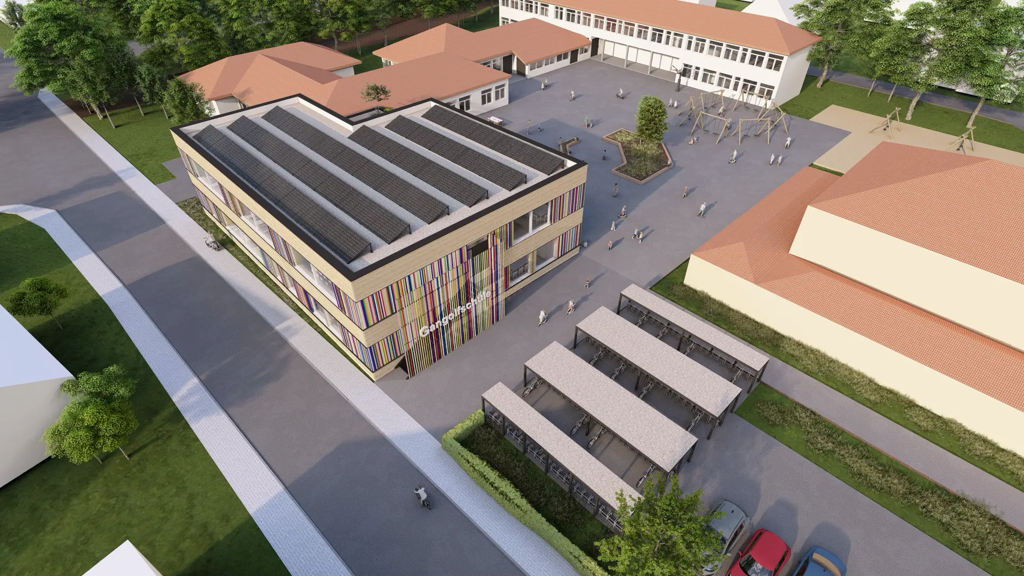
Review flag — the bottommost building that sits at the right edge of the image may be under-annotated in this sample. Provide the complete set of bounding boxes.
[687,141,1024,453]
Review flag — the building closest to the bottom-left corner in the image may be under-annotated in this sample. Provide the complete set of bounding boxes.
[83,540,160,576]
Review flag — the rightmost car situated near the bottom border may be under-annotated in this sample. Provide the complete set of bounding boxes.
[793,547,845,576]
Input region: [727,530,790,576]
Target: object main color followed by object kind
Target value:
red car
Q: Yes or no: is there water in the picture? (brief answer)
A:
No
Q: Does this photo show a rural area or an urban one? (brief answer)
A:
urban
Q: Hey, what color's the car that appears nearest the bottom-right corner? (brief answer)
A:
blue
